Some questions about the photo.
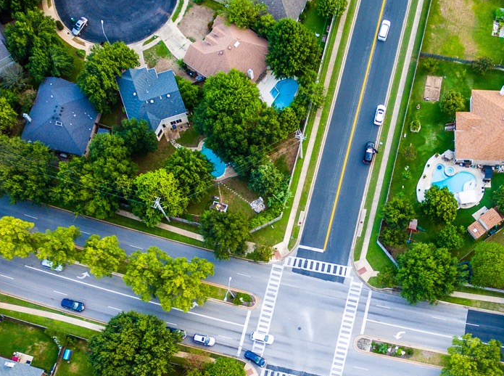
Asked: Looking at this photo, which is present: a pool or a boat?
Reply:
pool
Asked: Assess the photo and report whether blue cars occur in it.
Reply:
Yes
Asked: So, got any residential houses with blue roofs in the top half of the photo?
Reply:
Yes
